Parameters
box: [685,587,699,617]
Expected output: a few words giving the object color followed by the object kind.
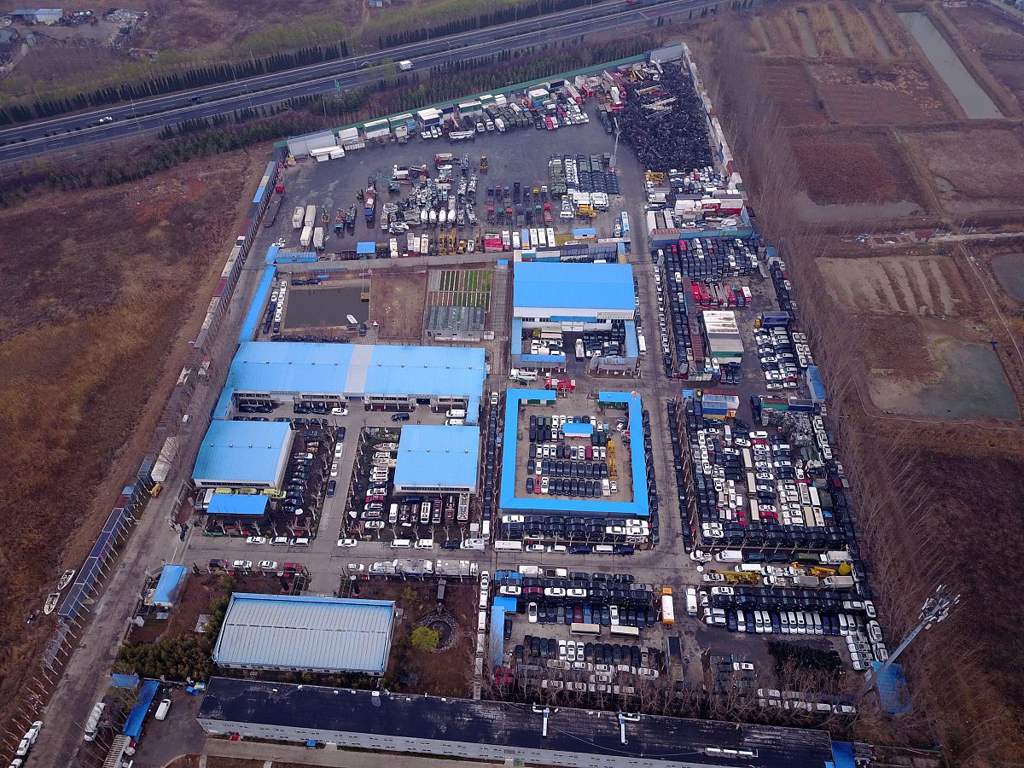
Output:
white vehicle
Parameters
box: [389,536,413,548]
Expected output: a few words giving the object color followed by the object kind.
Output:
white vehicle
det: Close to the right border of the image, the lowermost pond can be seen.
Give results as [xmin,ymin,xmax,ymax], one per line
[872,338,1021,421]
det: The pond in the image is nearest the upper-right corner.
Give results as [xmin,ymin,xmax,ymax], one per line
[899,11,1003,118]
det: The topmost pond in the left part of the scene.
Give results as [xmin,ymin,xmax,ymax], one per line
[284,286,370,327]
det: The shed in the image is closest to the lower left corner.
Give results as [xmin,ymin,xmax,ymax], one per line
[123,679,164,740]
